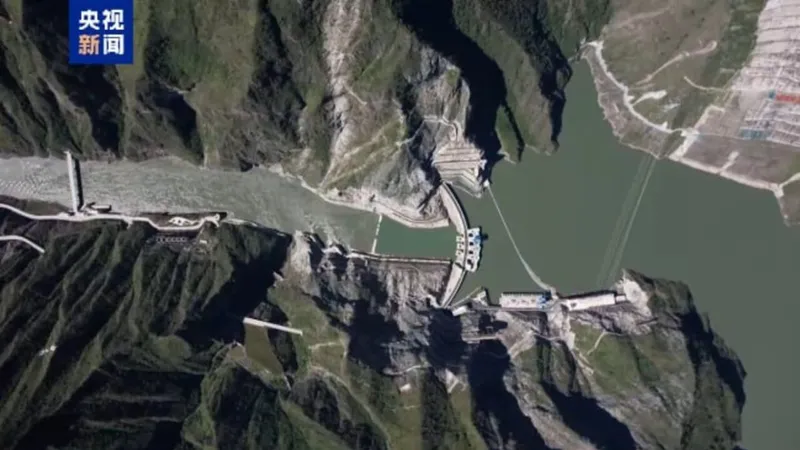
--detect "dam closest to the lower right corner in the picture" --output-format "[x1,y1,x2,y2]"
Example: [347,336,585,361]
[437,175,482,311]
